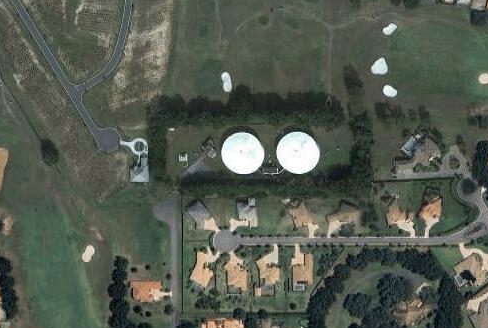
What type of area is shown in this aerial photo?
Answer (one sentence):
It's a golf course.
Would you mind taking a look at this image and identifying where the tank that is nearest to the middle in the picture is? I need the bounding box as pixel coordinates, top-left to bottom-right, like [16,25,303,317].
[221,132,264,175]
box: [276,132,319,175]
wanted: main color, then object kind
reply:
white storage tank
